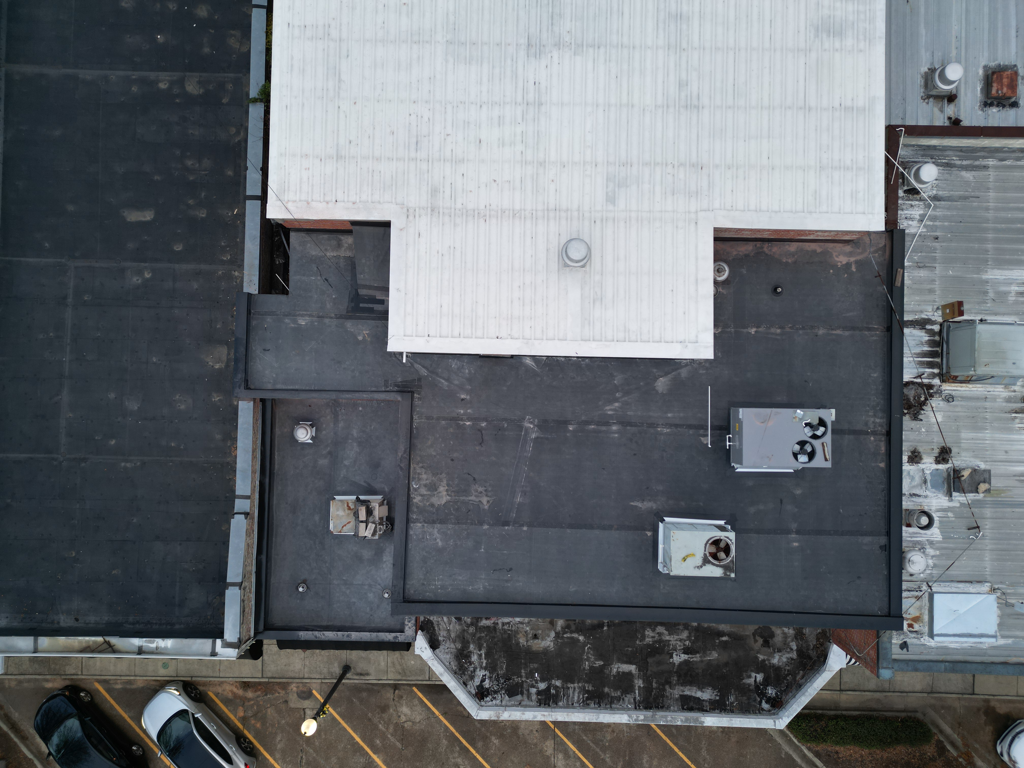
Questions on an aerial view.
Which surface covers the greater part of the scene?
buildings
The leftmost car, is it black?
Yes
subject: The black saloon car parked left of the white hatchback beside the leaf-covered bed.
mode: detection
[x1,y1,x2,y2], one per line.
[32,683,151,768]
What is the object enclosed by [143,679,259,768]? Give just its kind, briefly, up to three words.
car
